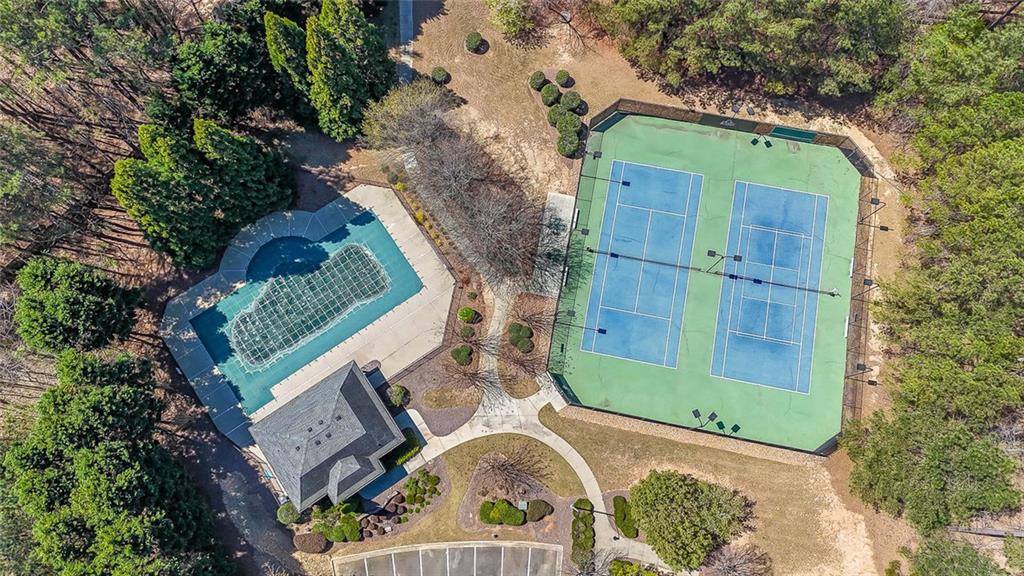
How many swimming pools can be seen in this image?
one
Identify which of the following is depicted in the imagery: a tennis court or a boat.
tennis court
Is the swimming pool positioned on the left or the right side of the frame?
left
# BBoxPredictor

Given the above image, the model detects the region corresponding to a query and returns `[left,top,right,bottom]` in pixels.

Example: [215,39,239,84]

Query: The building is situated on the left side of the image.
[249,359,406,514]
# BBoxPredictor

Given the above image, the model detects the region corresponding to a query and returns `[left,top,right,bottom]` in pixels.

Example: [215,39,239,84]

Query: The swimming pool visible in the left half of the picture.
[160,184,456,482]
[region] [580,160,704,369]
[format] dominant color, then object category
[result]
blue tennis court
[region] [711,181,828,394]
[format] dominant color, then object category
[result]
blue tennis court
